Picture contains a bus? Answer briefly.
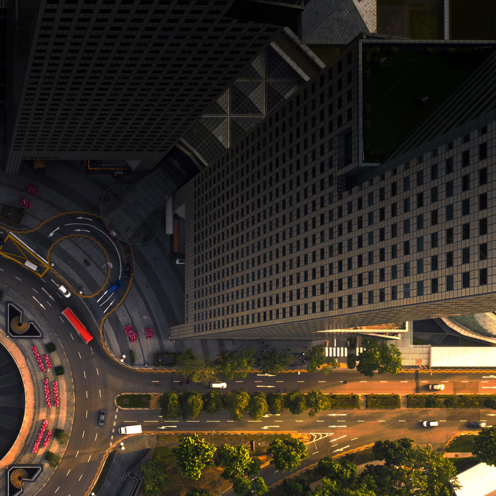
Yes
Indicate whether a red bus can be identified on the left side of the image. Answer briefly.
Yes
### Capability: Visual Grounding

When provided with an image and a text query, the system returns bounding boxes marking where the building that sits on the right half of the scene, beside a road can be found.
[170,14,496,341]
